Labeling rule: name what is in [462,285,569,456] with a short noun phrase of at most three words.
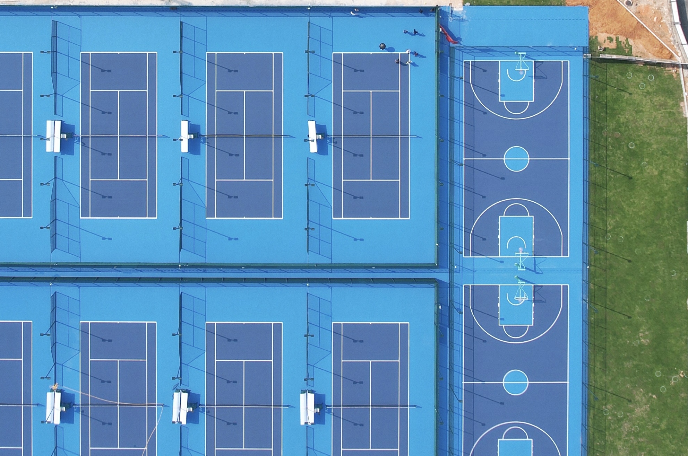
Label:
basketball court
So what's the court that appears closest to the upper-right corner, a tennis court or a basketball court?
basketball court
